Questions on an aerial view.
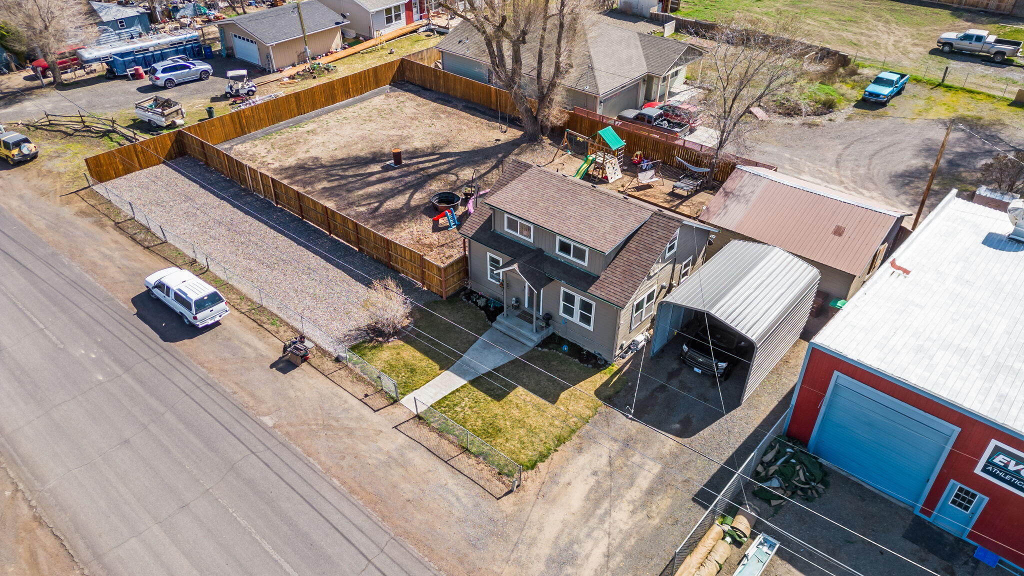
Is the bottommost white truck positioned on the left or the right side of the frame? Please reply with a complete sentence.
The bottommost white truck appears in the left half of the scene.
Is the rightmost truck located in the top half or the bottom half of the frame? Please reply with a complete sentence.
The top half of the photo is where the rightmost truck is.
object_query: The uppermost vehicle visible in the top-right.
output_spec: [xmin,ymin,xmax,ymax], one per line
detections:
[932,28,1024,62]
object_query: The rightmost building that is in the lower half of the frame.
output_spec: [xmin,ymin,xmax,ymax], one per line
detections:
[780,189,1024,568]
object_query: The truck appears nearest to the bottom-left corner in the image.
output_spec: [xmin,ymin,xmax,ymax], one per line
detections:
[139,261,233,326]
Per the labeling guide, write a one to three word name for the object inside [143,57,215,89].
car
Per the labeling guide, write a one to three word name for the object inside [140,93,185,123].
trailer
